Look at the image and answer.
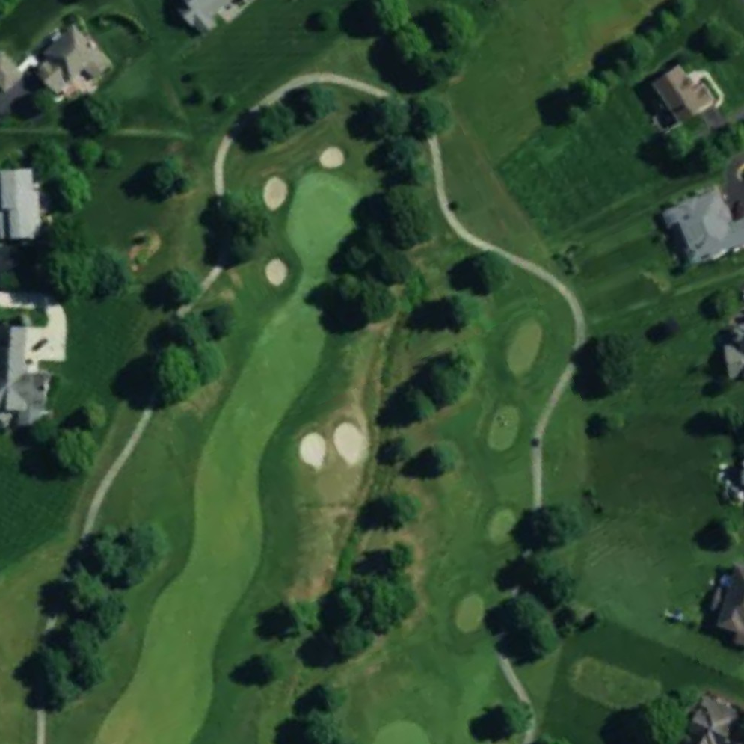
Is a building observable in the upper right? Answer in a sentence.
Yes, a building is visible in the upper right.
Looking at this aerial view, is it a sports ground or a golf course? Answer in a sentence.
What you see here is a golf course.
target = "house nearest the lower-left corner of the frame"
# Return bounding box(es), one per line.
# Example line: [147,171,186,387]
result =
[0,326,53,420]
